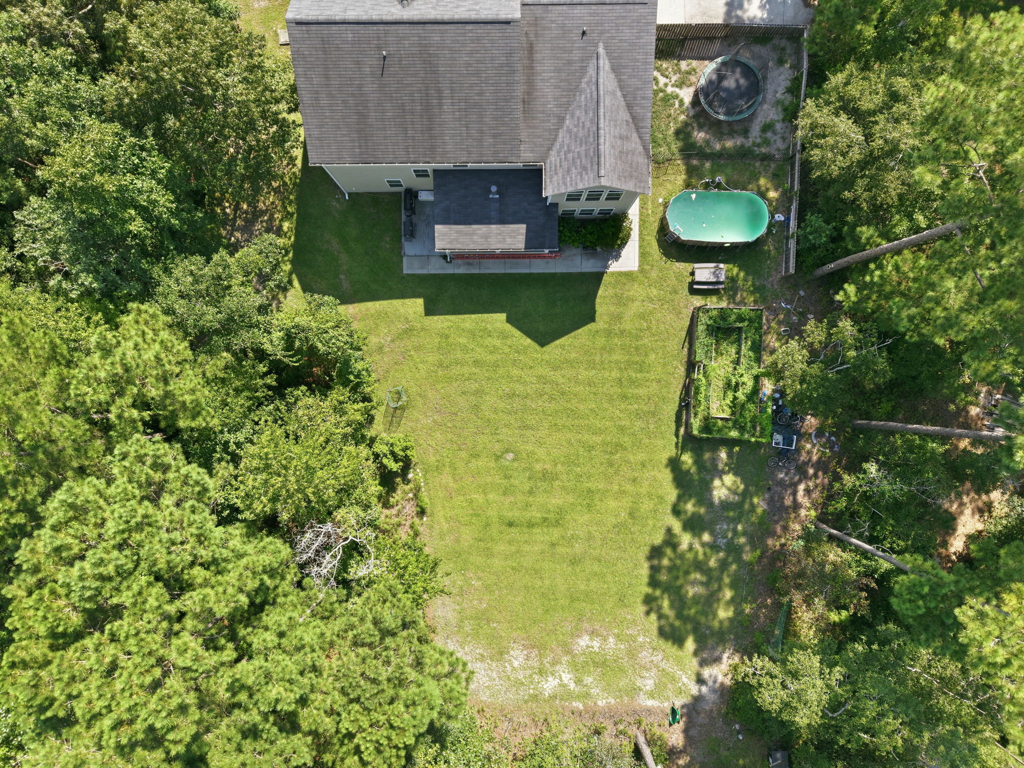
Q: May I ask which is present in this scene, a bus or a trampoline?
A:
trampoline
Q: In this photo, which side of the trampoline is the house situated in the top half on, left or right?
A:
to its left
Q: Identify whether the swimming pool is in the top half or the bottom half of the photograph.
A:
top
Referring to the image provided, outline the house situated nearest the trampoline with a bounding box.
[287,0,660,269]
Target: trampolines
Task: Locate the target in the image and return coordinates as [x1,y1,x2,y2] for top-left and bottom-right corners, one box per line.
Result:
[694,42,770,124]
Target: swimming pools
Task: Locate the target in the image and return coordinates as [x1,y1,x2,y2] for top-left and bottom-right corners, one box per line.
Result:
[661,190,768,253]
